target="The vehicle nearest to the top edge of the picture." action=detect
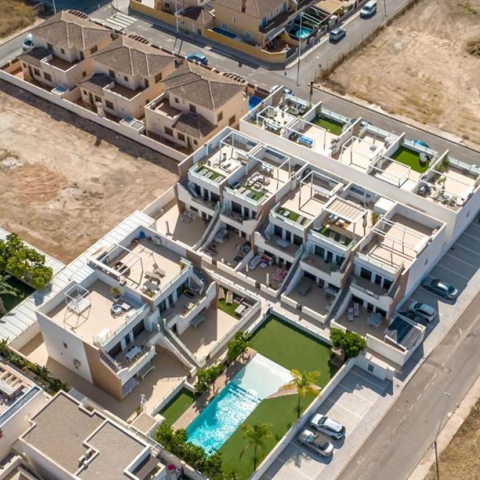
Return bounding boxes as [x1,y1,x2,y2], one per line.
[359,0,379,17]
